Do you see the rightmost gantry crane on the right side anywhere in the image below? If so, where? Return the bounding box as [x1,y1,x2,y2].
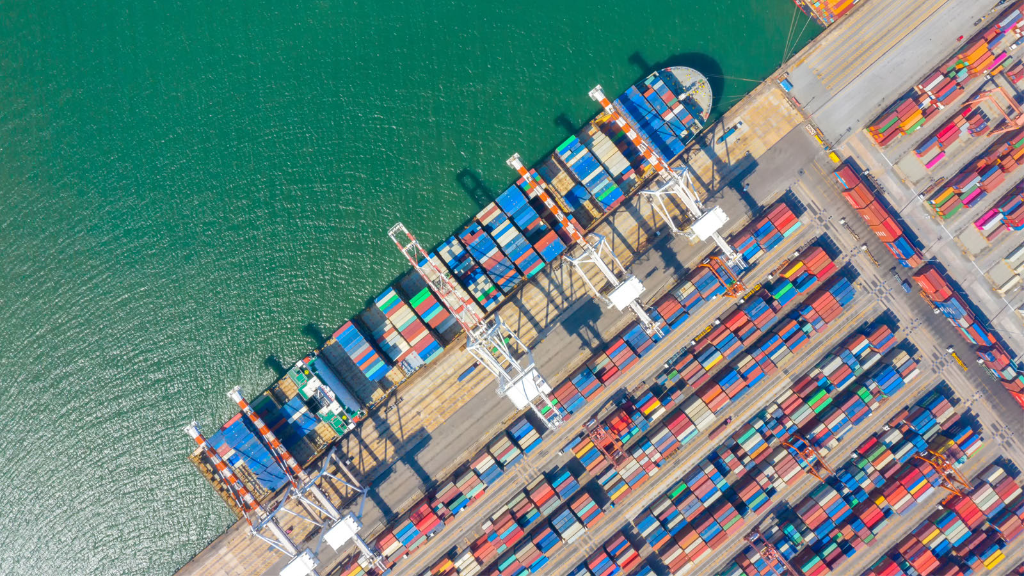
[961,86,1024,139]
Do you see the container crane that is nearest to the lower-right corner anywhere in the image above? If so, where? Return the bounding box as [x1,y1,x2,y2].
[916,449,974,499]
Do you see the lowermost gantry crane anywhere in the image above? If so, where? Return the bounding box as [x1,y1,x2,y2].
[743,527,796,576]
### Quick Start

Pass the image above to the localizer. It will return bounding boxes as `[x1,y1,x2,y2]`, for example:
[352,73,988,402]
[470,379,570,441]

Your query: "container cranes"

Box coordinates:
[961,86,1024,139]
[586,79,746,271]
[506,148,665,337]
[226,384,388,567]
[183,420,335,576]
[743,527,796,576]
[388,223,566,429]
[916,449,974,499]
[581,414,627,468]
[697,255,748,299]
[782,432,835,484]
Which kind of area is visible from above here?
port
